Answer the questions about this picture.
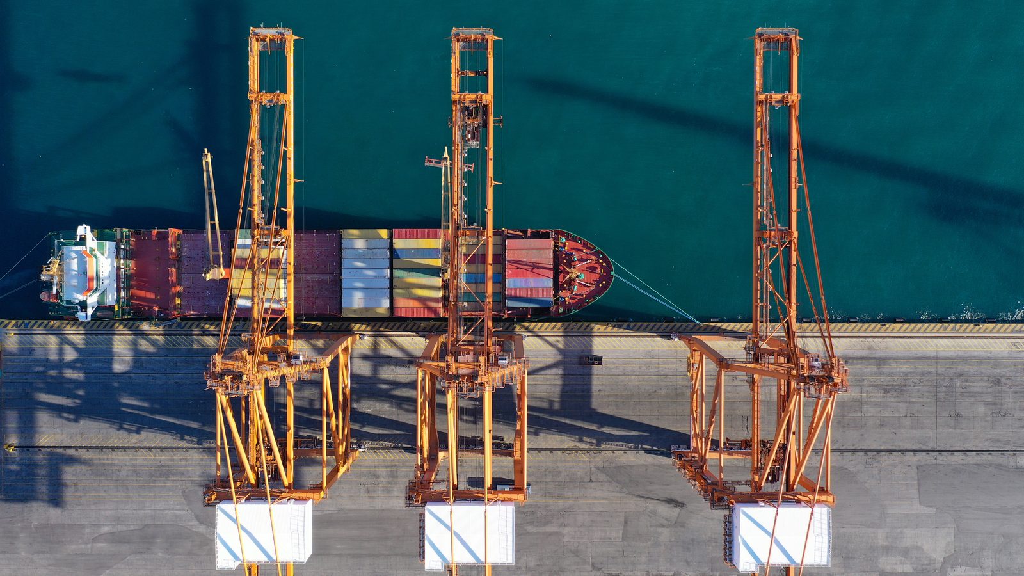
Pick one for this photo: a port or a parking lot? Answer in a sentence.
The picture captures a port.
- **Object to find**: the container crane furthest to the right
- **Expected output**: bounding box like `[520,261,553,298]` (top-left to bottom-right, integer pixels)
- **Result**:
[672,25,852,576]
